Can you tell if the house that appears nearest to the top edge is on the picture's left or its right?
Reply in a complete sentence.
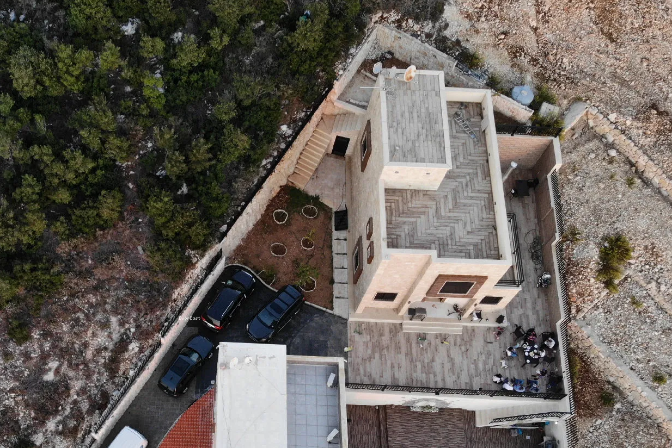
The house that appears nearest to the top edge appears in the right half of the scene.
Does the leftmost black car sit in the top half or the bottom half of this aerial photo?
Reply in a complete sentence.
The bottom half of the photo is where the leftmost black car is.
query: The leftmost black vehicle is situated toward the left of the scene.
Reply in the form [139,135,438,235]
[155,334,214,400]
